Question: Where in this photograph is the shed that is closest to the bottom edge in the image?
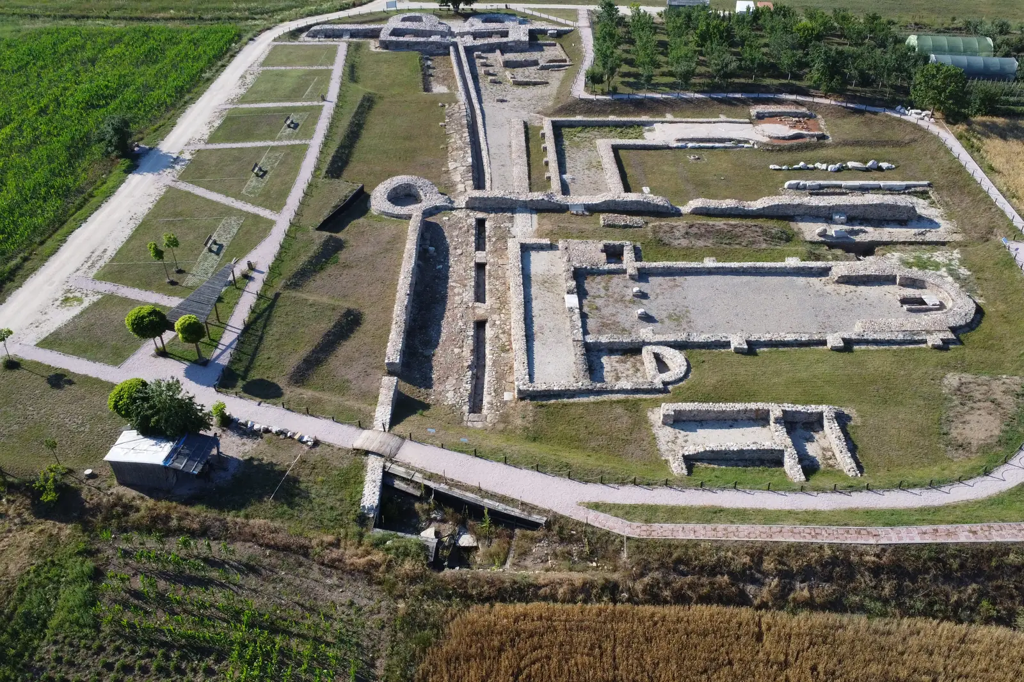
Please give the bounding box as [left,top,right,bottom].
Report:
[103,431,227,497]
